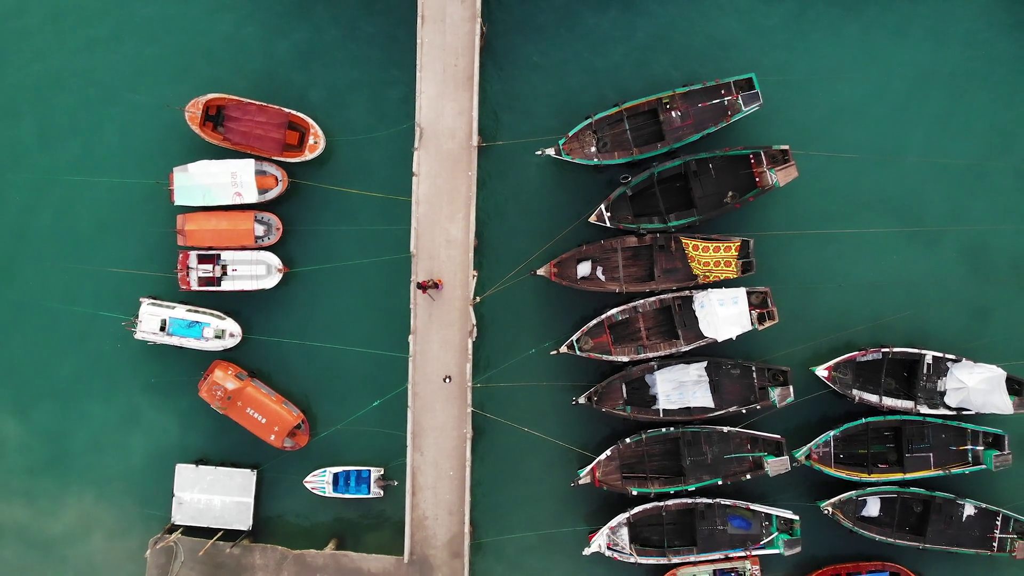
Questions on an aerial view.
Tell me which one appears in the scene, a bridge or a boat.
boat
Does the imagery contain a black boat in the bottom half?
Yes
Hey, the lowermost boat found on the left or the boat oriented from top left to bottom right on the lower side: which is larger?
the boat oriented from top left to bottom right on the lower side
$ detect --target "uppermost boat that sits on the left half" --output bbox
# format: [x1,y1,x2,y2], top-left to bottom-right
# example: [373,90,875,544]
[176,93,328,164]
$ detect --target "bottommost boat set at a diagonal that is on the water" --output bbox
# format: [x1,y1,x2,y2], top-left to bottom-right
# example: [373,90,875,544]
[197,359,312,450]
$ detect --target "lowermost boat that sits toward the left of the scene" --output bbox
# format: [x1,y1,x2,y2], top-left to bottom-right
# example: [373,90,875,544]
[303,465,398,498]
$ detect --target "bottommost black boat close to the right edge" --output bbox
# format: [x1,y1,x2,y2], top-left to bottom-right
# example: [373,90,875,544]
[810,480,1024,558]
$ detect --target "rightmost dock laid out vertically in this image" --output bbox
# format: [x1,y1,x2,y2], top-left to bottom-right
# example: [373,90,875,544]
[404,0,485,576]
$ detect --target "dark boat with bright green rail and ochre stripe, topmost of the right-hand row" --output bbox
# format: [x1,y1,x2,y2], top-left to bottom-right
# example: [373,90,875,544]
[536,73,762,171]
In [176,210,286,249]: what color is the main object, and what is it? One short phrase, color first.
orange boat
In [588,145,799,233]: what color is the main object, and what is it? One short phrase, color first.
black boat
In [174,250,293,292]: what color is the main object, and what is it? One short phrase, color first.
white boat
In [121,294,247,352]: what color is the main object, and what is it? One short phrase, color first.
white boat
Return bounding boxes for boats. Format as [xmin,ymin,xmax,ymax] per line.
[550,287,779,365]
[303,465,398,498]
[588,145,799,233]
[197,359,312,450]
[168,159,291,207]
[810,480,1024,558]
[786,414,1012,483]
[571,423,791,496]
[659,556,761,576]
[572,356,794,424]
[536,73,762,171]
[121,294,247,352]
[806,343,1024,415]
[174,250,293,292]
[176,93,328,164]
[799,558,912,576]
[531,231,756,293]
[582,490,801,566]
[176,210,286,249]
